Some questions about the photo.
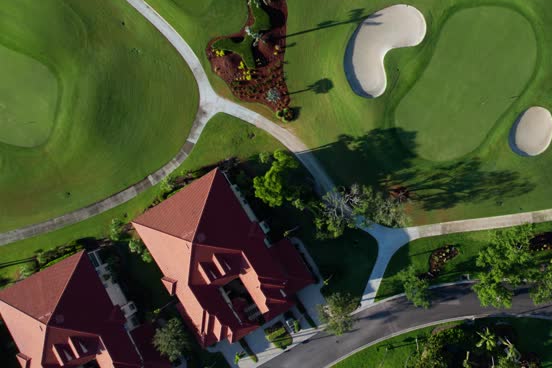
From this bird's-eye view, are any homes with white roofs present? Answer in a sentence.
No, there isn't any home with a white roof down there.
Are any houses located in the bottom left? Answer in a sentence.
Yes, I can see a house in the bottom left.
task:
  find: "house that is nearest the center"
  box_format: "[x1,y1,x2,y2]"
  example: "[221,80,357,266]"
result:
[132,165,317,350]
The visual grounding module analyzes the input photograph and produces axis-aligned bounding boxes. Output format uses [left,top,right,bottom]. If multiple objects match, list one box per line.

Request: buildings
[0,240,190,368]
[132,165,317,350]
